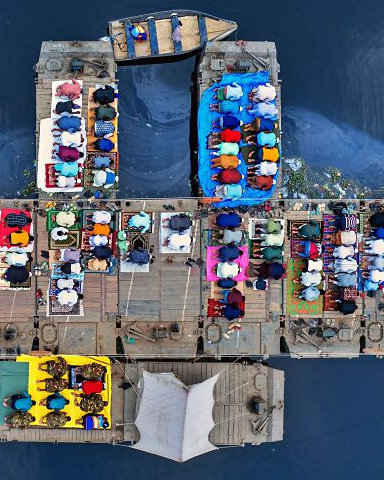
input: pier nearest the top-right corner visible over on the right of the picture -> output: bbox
[192,41,286,200]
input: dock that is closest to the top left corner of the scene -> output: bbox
[30,41,123,200]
